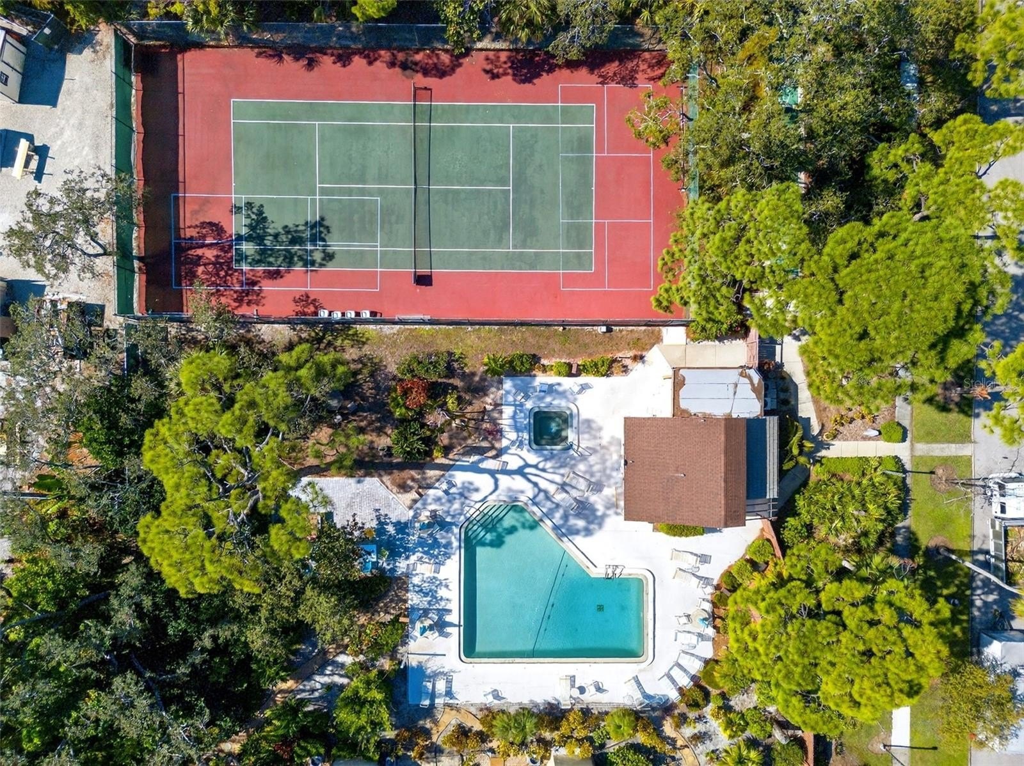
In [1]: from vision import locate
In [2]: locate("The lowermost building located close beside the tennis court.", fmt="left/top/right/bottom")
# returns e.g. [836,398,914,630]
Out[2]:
[623,364,779,527]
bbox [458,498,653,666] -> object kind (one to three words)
swimming pool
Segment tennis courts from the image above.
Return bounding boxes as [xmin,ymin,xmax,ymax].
[133,45,691,320]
